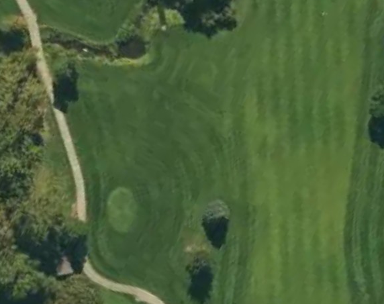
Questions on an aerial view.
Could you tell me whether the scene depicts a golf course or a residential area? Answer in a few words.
golf course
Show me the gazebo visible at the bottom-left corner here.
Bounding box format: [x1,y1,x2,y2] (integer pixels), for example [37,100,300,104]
[56,260,74,277]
